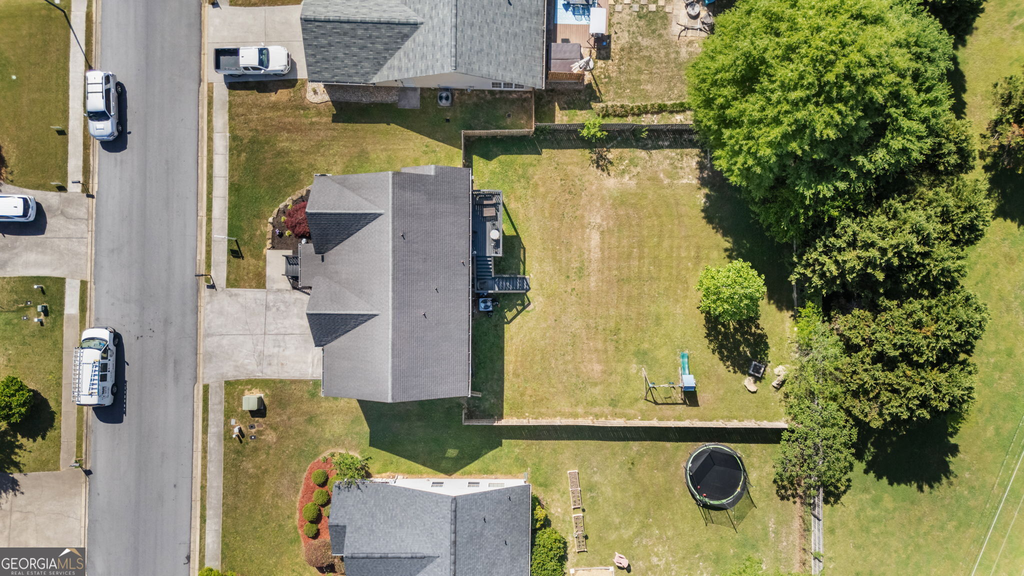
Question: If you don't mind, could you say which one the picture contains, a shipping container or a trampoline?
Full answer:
This aerial view contains a trampoline.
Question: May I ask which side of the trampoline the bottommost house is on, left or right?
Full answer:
To the left of the trampoline is where the bottommost house appears.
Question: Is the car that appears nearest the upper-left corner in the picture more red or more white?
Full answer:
In this view, the car that appears nearest the upper-left corner is white.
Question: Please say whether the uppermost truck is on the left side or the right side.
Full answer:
The uppermost truck sits on the left side.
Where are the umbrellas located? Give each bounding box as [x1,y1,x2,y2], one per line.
[571,48,595,73]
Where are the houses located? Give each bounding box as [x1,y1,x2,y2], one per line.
[328,469,533,576]
[300,0,549,96]
[282,164,474,404]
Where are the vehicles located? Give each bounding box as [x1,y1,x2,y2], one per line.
[74,324,120,406]
[82,71,123,144]
[214,41,293,77]
[0,194,36,223]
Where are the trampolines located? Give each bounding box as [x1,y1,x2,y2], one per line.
[680,440,755,514]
